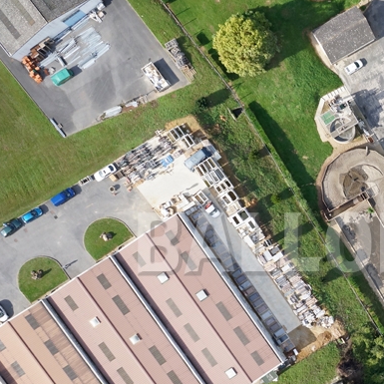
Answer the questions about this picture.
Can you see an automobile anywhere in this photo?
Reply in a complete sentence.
Yes, the picture does show an automobile.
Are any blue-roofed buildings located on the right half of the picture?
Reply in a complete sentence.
No, no blue-roofed building is visible on the right half of the picture.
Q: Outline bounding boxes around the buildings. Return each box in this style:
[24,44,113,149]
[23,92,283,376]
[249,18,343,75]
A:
[0,0,103,58]
[0,211,287,384]
[313,6,377,65]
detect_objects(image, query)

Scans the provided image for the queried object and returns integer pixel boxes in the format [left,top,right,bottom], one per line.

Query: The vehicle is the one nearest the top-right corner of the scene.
[342,57,366,75]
